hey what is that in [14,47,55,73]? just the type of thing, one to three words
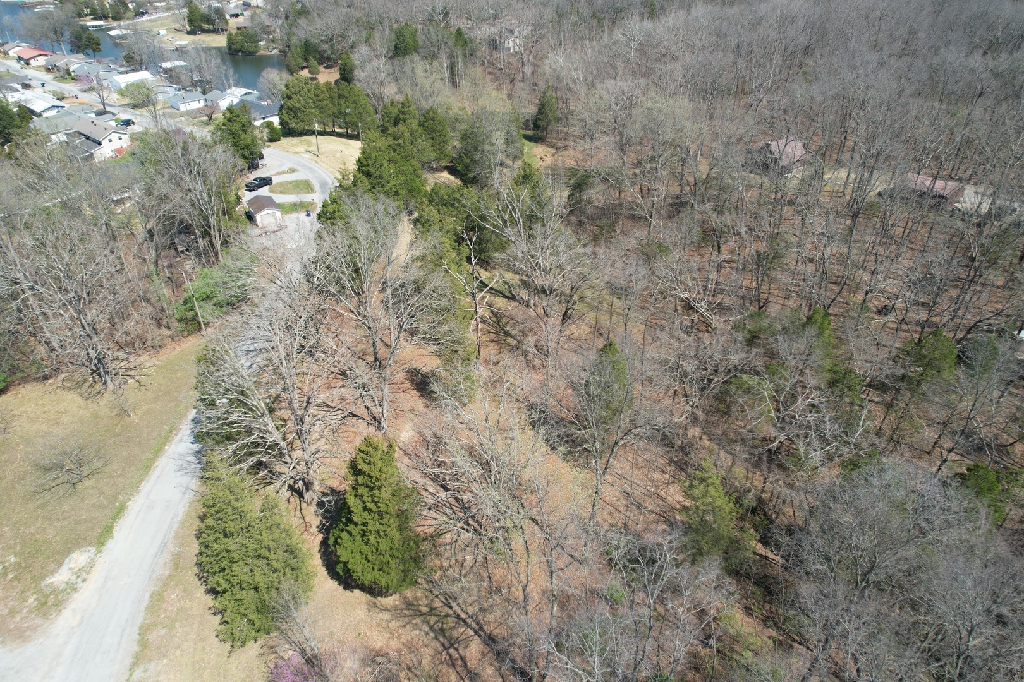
house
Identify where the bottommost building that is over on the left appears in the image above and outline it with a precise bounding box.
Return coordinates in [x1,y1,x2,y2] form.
[247,193,284,232]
